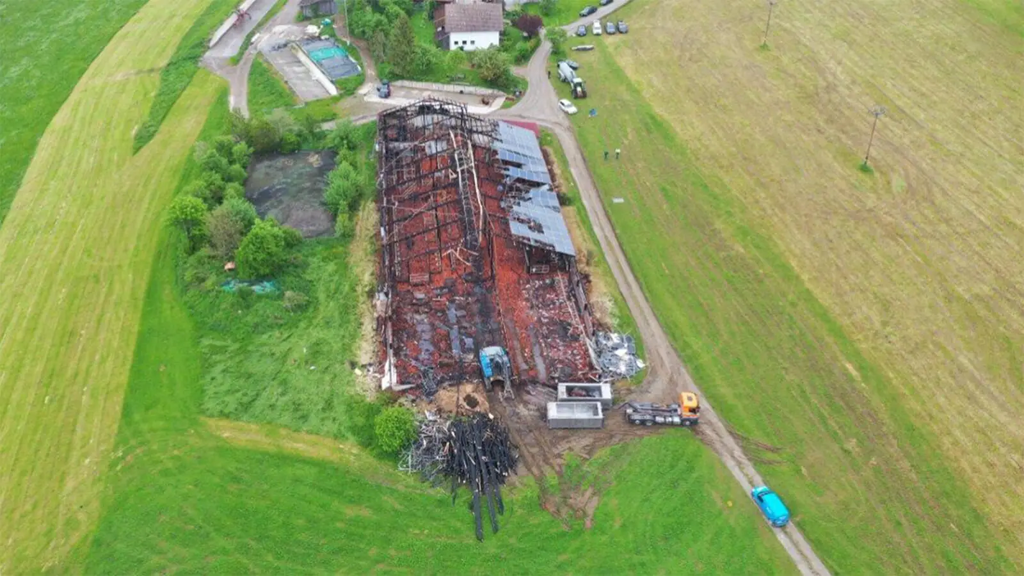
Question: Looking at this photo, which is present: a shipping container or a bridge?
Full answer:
The image shows a shipping container.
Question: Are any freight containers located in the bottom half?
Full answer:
Yes, the scene does show a freight container in the bottom half.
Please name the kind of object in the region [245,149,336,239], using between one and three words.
pond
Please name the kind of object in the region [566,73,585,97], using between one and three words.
work vehicle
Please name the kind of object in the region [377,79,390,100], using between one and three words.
vehicle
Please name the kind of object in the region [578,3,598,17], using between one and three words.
car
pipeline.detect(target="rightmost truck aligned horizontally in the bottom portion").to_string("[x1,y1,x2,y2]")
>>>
[618,393,703,425]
